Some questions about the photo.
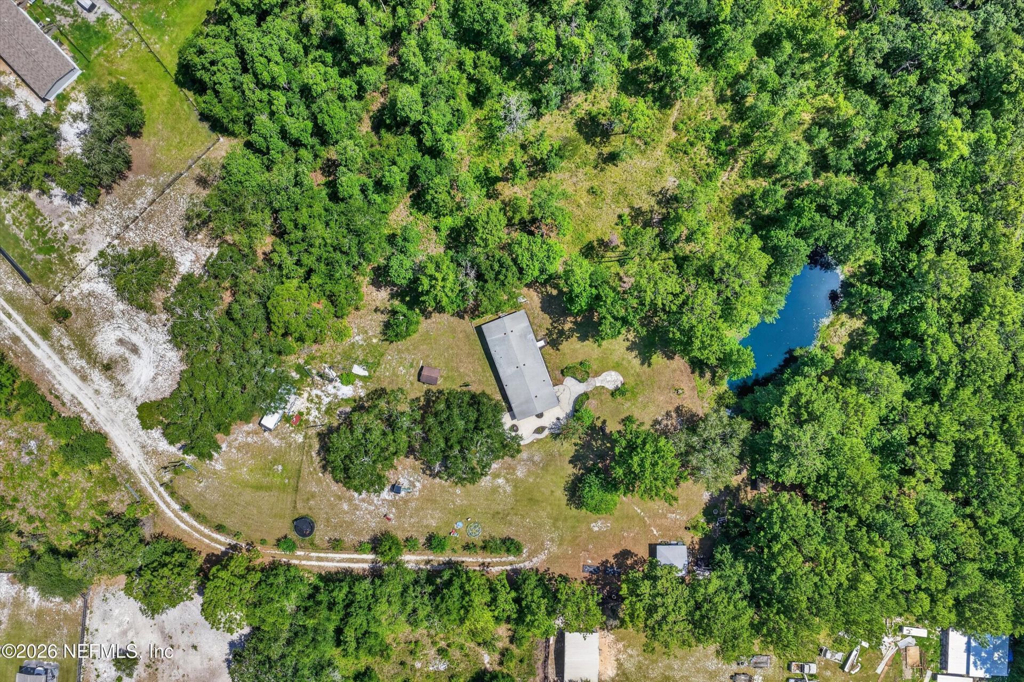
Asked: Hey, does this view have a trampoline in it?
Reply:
Yes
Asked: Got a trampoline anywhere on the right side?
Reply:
No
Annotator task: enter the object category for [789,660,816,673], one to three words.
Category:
vehicle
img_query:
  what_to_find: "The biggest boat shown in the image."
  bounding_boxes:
[842,644,860,674]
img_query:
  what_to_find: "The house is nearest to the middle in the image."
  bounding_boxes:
[482,310,560,420]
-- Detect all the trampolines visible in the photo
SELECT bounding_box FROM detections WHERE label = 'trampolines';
[292,515,316,540]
